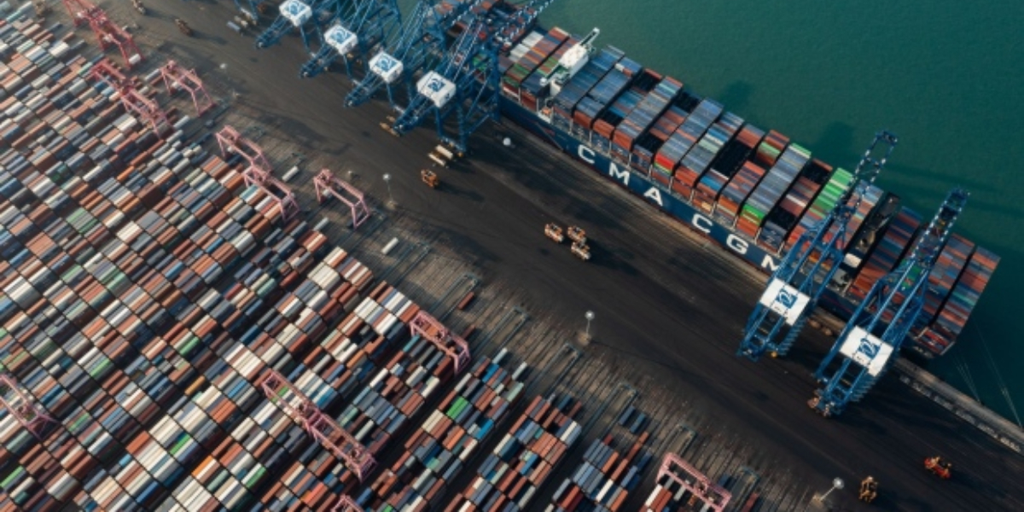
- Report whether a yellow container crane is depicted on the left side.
No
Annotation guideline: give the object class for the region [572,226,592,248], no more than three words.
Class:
work vehicle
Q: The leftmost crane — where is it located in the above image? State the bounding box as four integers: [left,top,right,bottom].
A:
[0,372,61,441]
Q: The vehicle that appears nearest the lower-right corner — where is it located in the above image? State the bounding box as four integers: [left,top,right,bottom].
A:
[927,456,957,482]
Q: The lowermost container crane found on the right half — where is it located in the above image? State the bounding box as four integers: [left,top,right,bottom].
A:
[652,452,728,512]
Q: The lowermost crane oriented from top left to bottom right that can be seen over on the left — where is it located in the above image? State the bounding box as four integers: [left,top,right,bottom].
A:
[308,411,378,483]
